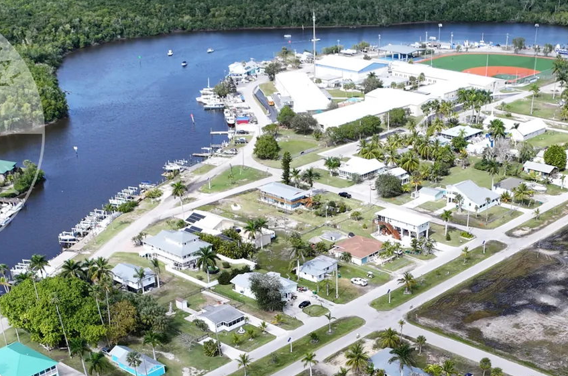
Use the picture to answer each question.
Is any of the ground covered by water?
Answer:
Yes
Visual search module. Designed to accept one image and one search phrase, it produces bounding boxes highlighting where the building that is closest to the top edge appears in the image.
[378,46,424,65]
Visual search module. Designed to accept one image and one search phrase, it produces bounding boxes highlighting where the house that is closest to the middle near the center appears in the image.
[259,183,313,215]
